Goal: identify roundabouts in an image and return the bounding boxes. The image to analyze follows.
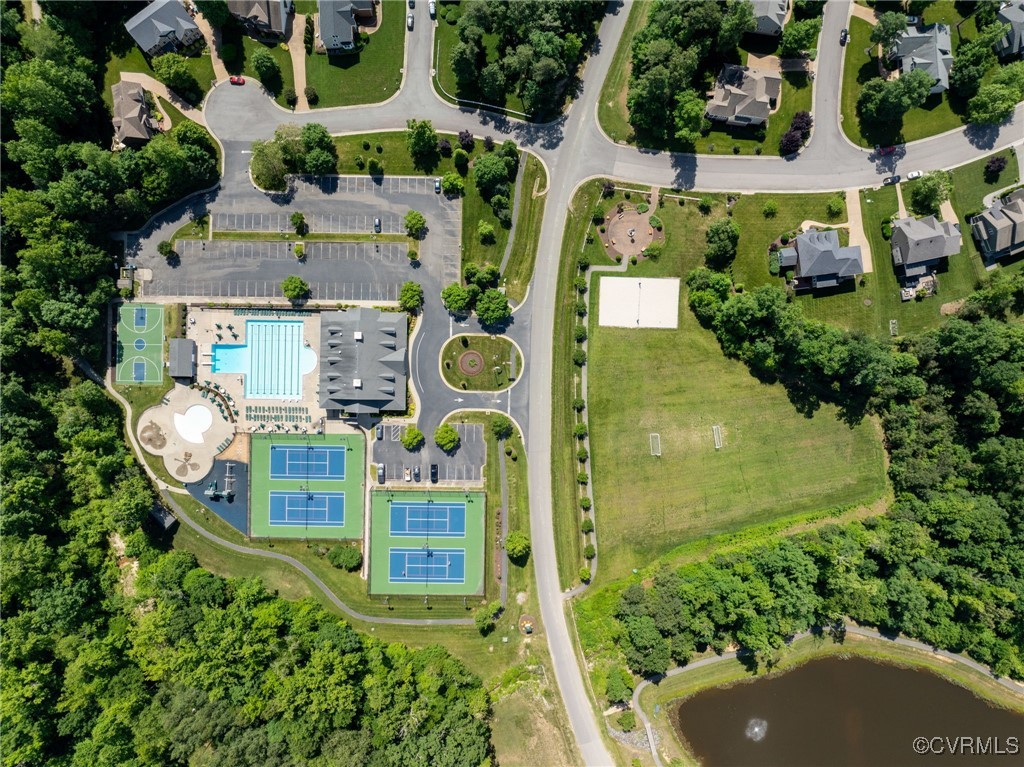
[410,287,533,454]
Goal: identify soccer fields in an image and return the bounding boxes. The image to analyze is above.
[586,312,889,586]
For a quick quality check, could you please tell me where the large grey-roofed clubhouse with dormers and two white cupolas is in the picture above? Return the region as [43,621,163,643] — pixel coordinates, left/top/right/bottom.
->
[319,304,407,420]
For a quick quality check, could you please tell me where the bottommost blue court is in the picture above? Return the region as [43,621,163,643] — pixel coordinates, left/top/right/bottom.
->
[389,546,465,587]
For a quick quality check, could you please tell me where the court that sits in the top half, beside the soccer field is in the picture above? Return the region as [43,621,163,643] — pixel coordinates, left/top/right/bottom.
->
[598,276,680,329]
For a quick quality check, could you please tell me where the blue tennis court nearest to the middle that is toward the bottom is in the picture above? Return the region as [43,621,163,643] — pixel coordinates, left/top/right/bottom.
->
[389,500,466,540]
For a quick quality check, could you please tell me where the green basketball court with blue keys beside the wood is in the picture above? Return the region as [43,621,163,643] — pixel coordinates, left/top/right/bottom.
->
[113,304,164,385]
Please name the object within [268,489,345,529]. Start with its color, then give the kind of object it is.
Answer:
blue tennis court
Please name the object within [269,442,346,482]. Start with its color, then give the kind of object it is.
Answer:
blue tennis court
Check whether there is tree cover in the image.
Yes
